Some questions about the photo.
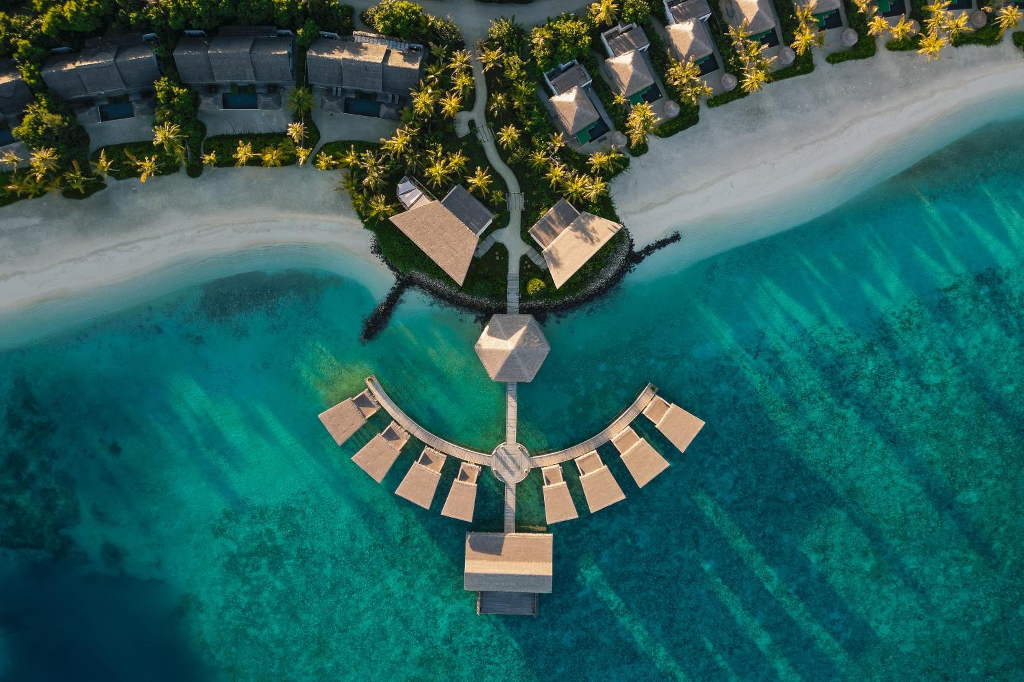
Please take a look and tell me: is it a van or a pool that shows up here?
pool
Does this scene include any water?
Yes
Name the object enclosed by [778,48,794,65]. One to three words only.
umbrella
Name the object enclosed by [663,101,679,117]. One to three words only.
umbrella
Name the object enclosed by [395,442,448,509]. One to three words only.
house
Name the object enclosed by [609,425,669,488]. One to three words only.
house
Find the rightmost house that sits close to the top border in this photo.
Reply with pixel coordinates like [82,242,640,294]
[307,28,425,101]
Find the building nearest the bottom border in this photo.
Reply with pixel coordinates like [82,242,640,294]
[464,530,553,616]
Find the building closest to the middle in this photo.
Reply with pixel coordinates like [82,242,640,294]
[475,314,551,383]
